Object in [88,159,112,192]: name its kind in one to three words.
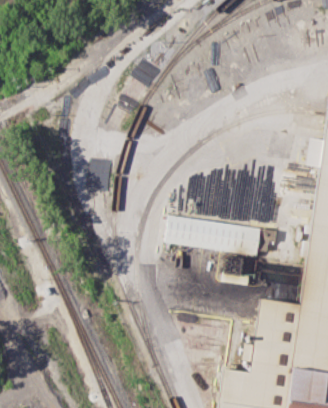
shed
